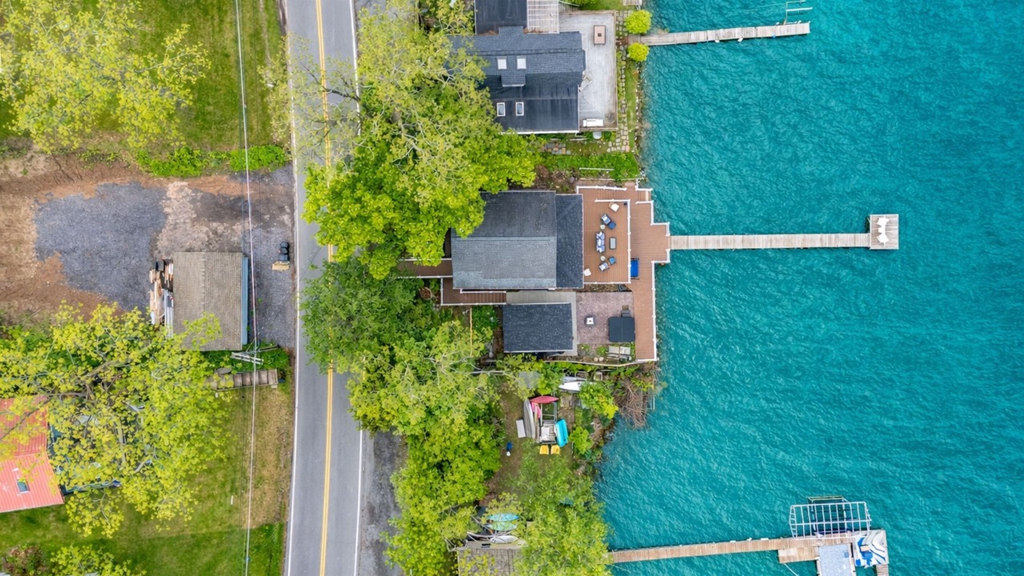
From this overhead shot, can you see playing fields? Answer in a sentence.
No, the frame has no playing field in it.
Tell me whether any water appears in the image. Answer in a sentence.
Yes, water shows up in the scene.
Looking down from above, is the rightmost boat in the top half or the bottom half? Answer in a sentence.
The rightmost boat is in the bottom half of the image.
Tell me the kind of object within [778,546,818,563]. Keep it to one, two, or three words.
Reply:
pier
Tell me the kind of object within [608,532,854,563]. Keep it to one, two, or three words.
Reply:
pier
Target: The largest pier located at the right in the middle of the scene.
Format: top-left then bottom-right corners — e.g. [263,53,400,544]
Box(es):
[671,233,869,249]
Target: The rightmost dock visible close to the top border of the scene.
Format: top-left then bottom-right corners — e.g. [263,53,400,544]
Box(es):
[642,20,811,47]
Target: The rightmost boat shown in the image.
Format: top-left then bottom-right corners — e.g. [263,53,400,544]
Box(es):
[816,542,854,576]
